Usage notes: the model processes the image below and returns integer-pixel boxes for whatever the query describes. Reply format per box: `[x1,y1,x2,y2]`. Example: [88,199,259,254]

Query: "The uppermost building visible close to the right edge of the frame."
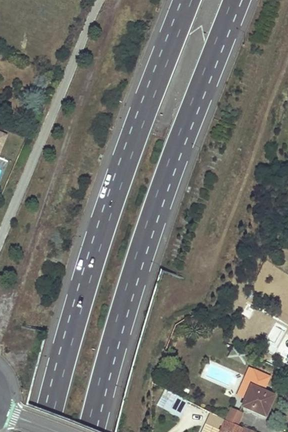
[238,366,278,416]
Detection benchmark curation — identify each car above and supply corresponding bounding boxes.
[104,174,112,186]
[89,257,96,268]
[77,296,84,307]
[100,187,108,200]
[76,258,84,270]
[191,414,202,420]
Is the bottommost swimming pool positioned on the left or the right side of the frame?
right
